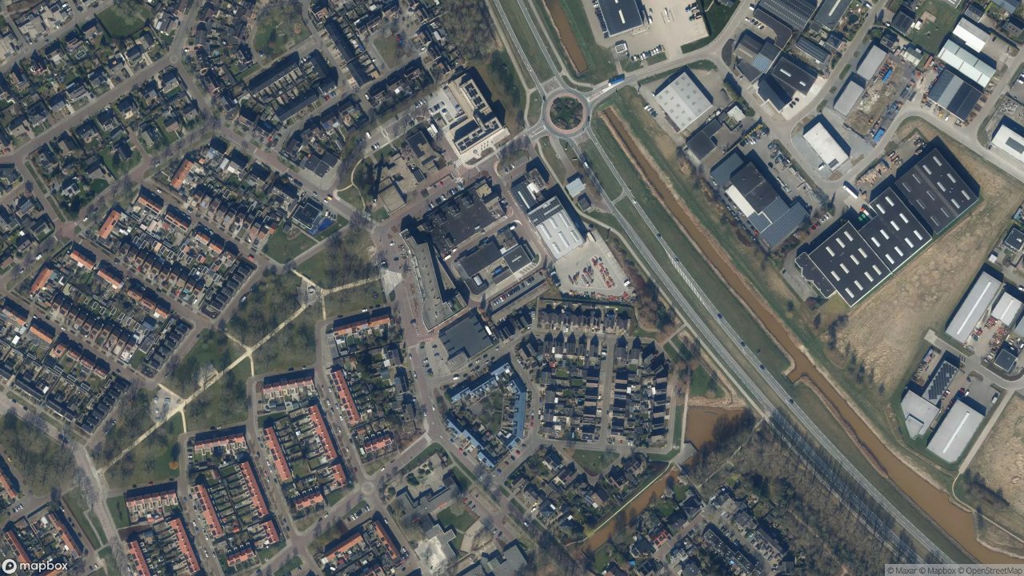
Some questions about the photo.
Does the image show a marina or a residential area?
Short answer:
residential area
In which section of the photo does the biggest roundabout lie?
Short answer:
top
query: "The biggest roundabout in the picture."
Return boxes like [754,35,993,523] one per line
[541,87,591,137]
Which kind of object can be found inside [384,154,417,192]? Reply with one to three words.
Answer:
house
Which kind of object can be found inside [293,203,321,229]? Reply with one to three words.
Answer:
building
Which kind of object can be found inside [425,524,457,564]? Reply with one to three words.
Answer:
building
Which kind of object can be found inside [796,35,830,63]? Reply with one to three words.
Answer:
barn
